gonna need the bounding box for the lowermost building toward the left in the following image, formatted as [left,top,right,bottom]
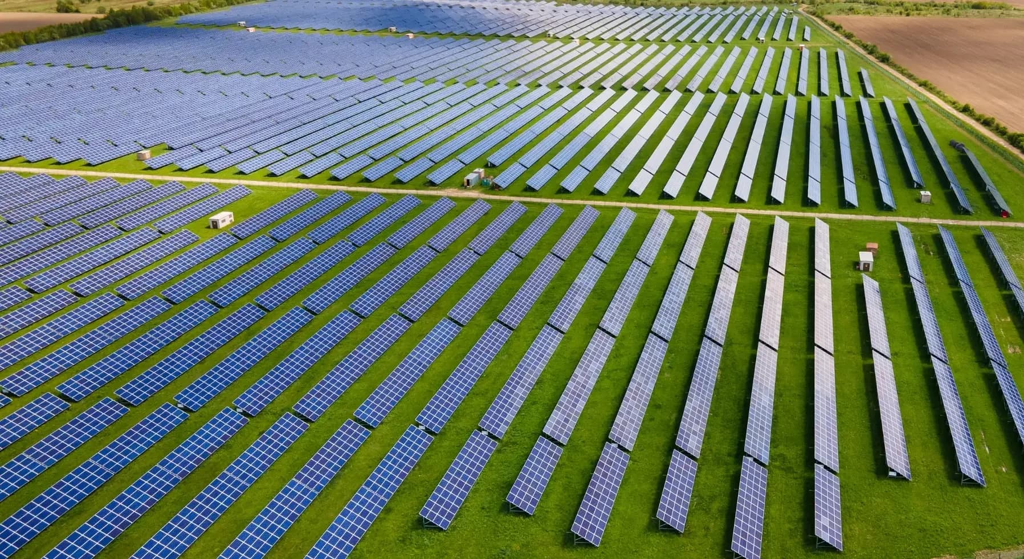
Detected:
[209,211,235,229]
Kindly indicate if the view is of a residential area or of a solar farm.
solar farm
